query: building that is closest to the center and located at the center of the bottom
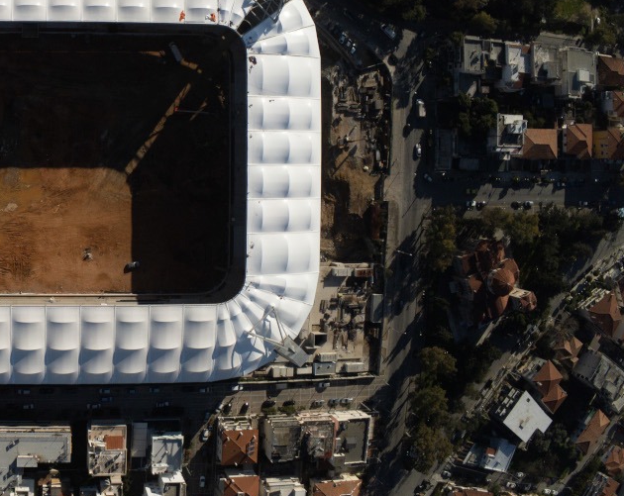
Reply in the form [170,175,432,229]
[314,362,338,376]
